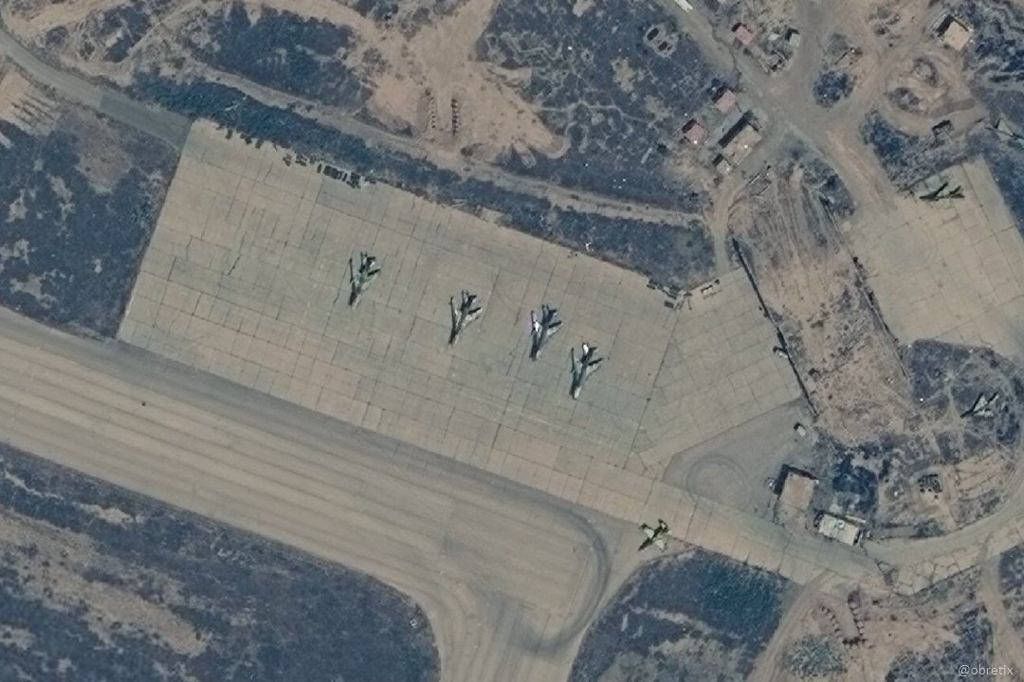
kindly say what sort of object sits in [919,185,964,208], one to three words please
airplane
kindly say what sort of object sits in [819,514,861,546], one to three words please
building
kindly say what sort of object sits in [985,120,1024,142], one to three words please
airplane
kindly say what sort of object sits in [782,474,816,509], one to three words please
building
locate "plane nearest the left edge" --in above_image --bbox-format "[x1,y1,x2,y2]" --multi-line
[349,252,380,311]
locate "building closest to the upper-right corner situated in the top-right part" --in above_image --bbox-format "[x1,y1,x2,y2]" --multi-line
[945,23,970,47]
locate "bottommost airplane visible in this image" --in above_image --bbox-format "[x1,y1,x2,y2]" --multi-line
[639,522,671,552]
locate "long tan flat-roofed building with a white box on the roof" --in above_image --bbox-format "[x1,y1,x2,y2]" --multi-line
[724,125,762,162]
